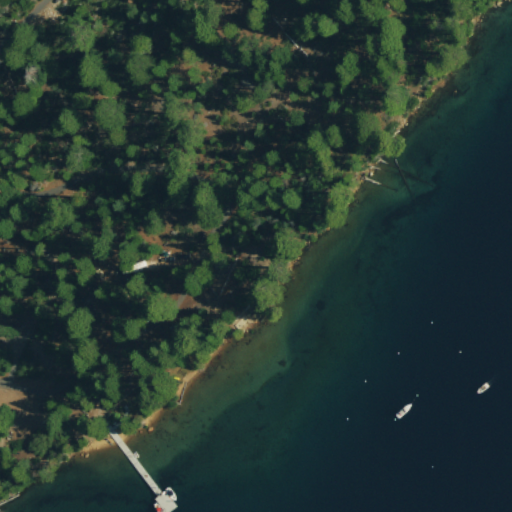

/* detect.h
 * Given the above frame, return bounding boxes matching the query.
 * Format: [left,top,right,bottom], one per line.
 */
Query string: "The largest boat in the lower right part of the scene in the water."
[395,404,412,420]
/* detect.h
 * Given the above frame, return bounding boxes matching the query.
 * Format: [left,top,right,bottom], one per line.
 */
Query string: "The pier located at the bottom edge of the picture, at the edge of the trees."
[109,430,178,512]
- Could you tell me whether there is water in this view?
Yes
